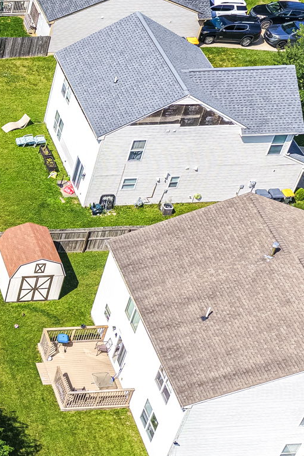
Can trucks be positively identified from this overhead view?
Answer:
No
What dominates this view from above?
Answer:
buildings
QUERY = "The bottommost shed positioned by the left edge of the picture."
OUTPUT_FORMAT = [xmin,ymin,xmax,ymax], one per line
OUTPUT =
[0,224,66,301]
